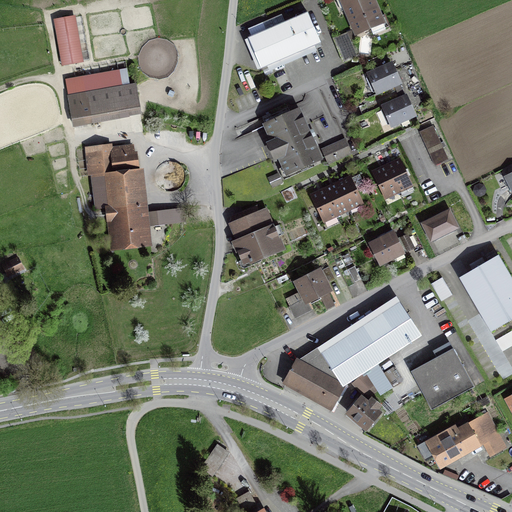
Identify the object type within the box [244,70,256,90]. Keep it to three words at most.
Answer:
vehicle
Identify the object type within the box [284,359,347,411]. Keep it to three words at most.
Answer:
building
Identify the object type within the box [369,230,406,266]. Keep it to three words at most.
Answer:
house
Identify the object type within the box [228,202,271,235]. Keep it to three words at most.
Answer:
barn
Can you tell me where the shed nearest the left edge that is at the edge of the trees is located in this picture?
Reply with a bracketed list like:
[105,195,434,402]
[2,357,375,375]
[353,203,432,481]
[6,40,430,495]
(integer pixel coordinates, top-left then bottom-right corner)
[4,254,26,279]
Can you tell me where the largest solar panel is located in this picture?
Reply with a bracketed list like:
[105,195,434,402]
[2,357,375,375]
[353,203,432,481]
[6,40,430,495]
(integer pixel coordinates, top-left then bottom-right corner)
[336,34,354,60]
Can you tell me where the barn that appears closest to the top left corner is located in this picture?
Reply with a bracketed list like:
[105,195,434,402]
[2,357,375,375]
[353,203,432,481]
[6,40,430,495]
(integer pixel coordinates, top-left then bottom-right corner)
[54,16,84,66]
